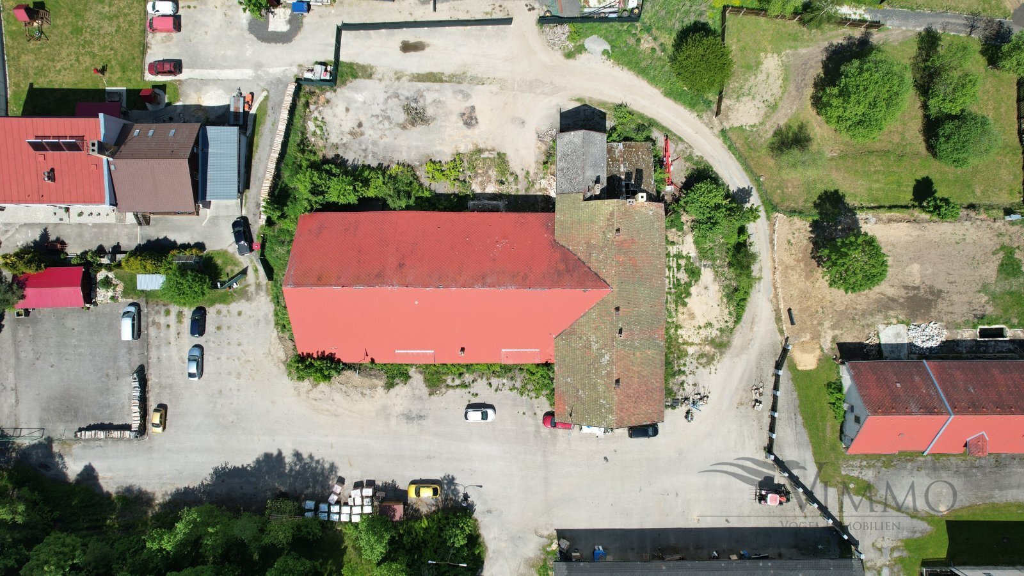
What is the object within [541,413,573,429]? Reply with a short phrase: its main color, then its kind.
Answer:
red car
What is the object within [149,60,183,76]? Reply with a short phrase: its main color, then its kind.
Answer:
red car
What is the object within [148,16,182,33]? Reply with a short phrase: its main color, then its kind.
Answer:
red vehicle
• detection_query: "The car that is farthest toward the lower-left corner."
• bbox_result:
[151,403,168,431]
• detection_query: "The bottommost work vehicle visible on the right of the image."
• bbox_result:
[749,488,800,509]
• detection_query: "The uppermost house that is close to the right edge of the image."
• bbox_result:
[840,360,1024,459]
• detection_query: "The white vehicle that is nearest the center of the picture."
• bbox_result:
[464,405,494,421]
